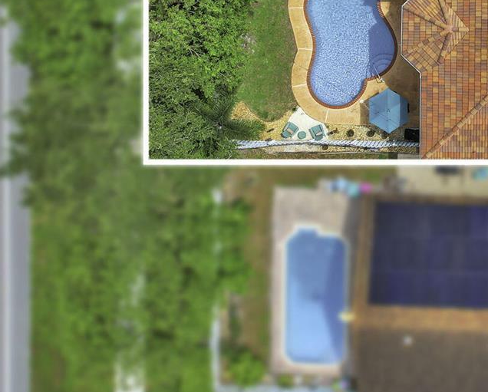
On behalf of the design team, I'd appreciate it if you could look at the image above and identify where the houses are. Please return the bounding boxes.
[349,200,488,392]
[398,0,488,167]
